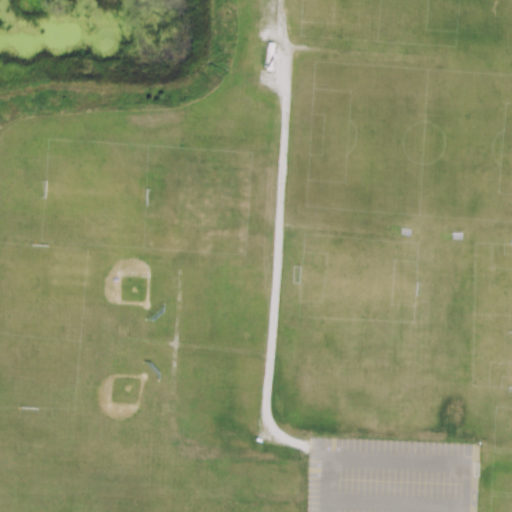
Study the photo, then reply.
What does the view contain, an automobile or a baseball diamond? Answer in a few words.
baseball diamond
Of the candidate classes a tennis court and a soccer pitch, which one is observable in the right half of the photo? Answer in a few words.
soccer pitch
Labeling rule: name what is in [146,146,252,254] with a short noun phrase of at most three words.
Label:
soccer field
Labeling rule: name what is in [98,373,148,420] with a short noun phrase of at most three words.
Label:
baseball field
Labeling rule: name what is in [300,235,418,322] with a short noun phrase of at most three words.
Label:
soccer field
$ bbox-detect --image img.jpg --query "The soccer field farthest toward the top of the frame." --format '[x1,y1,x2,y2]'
[301,0,460,48]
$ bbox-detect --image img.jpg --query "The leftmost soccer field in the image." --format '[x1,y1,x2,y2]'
[0,243,88,411]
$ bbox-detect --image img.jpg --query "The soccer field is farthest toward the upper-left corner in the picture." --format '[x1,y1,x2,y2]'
[42,138,148,250]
